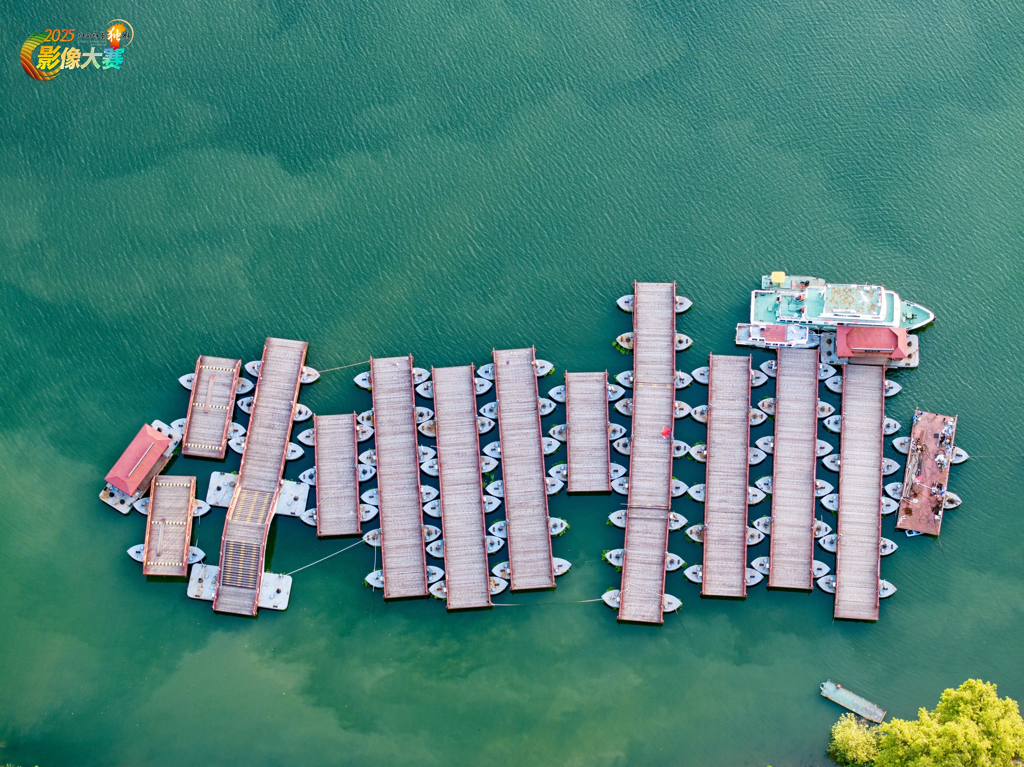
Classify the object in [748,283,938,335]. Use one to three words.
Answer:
ship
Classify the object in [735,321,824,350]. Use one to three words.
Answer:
boat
